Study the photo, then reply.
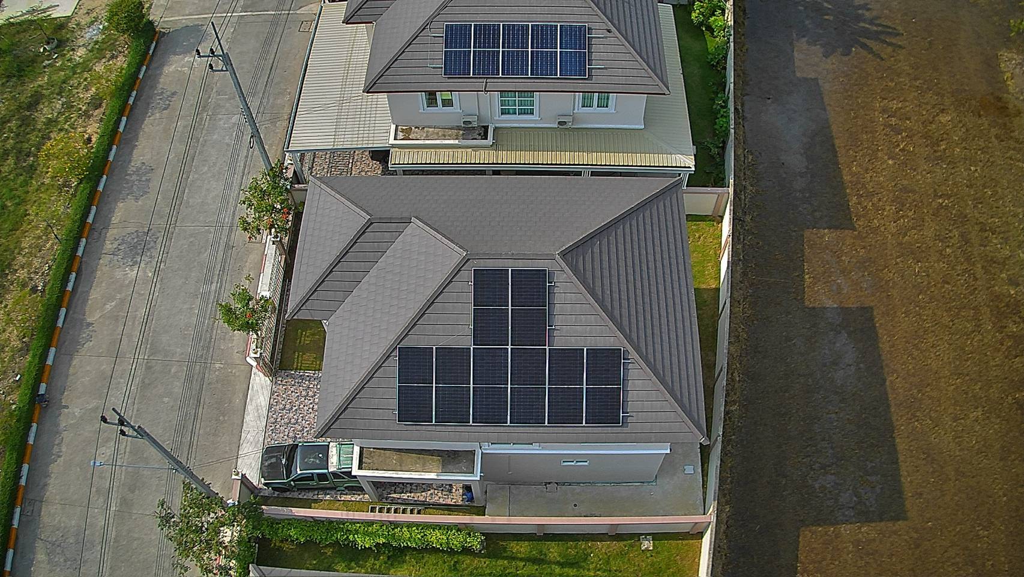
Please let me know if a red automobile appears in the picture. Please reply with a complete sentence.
No, no red automobile is visible in the view.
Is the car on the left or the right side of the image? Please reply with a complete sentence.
It is on the left.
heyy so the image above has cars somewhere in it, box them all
[257,436,384,493]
